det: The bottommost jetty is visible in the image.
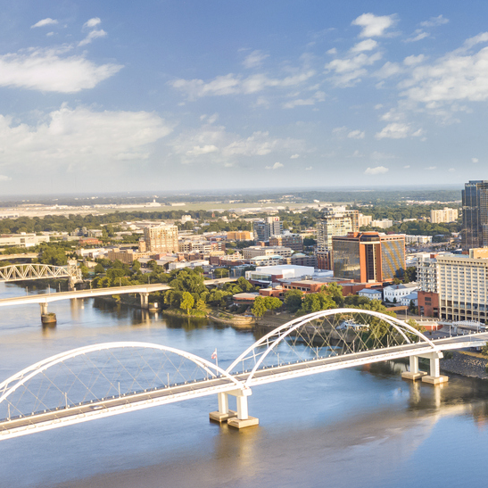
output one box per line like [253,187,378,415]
[211,384,264,427]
